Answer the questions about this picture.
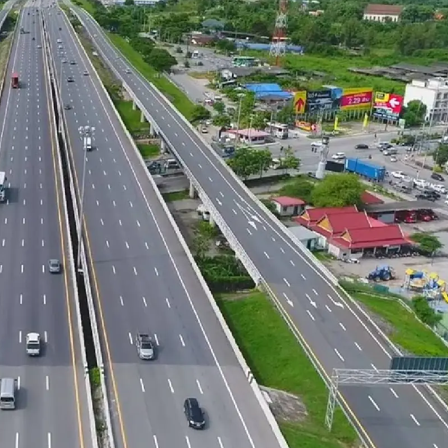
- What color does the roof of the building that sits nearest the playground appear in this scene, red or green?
red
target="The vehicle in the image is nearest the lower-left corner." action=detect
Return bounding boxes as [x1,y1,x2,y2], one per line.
[0,377,18,406]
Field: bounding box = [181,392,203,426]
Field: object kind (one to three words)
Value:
car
